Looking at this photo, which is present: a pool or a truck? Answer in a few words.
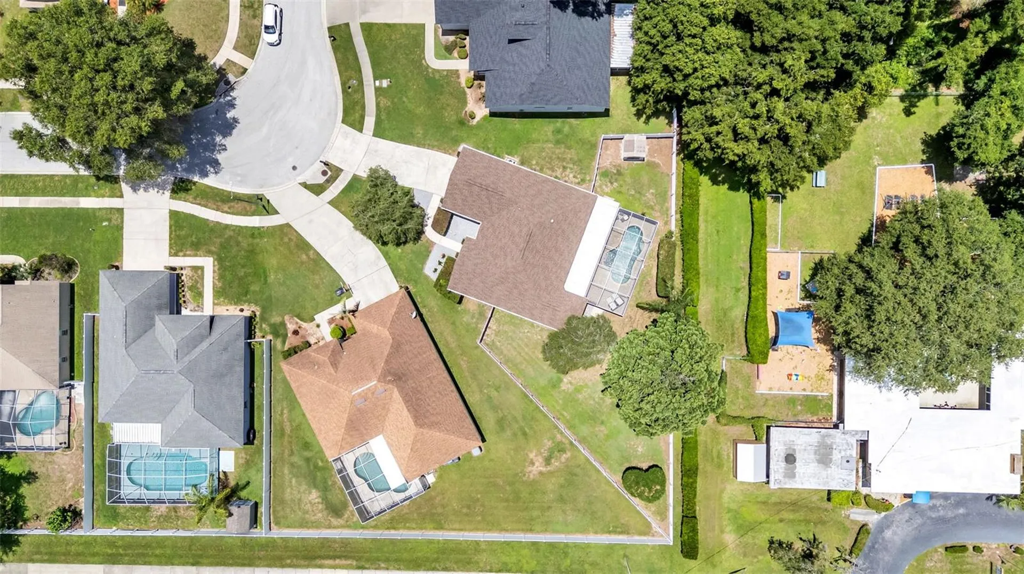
pool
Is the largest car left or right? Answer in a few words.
left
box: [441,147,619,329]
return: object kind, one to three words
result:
house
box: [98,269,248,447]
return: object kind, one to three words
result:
house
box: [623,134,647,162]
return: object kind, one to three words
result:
shed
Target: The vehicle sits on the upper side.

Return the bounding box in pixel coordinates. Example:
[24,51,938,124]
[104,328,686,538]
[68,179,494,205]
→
[262,1,284,46]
